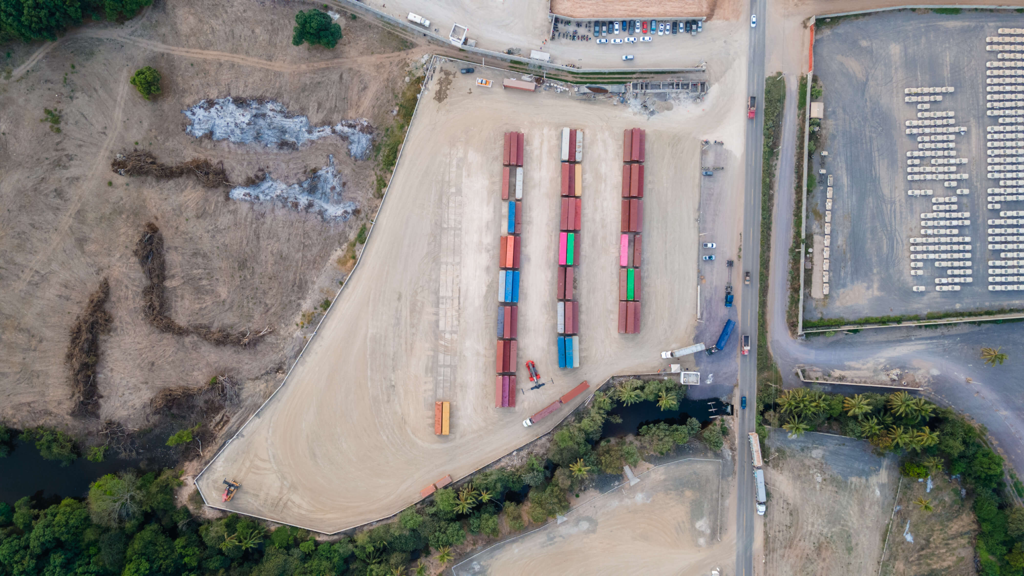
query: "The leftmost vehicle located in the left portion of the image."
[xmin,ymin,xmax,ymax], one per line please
[224,477,242,499]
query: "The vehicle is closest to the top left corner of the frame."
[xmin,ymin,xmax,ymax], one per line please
[406,13,430,28]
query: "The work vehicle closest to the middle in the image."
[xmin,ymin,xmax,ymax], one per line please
[522,359,554,393]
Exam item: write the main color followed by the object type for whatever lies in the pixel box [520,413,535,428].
white vehicle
